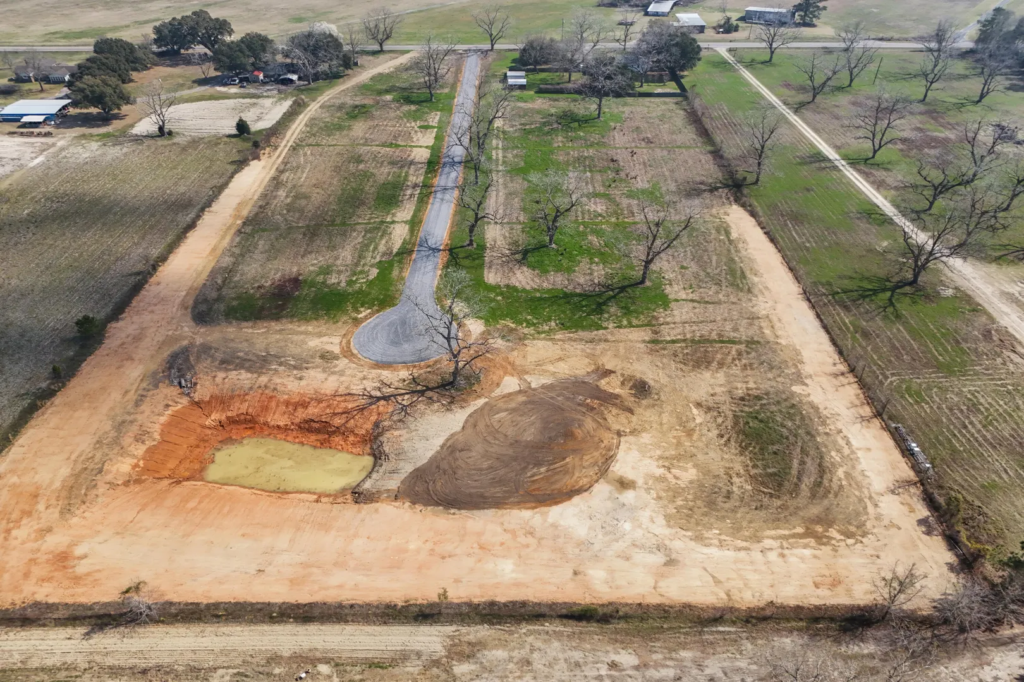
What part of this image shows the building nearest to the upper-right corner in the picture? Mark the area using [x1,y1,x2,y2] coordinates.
[743,11,794,24]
